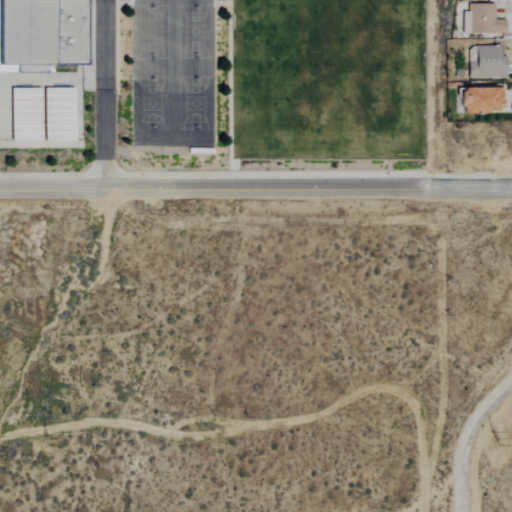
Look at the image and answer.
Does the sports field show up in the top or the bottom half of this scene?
top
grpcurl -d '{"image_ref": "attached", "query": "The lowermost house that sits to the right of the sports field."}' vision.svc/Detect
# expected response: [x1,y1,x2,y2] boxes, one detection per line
[464,86,506,116]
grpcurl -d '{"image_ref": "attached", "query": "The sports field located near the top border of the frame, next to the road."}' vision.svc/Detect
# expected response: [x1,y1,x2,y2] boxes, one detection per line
[234,0,425,159]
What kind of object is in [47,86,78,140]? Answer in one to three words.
shed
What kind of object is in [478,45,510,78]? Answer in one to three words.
house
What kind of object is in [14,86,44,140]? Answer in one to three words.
shed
